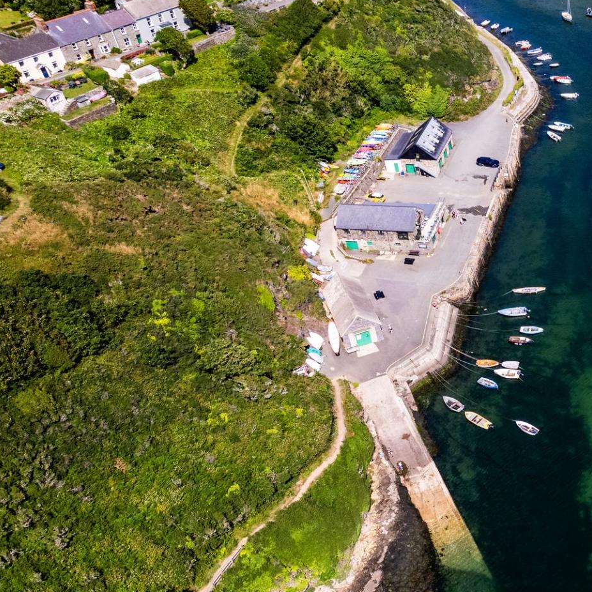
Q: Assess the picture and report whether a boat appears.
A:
Yes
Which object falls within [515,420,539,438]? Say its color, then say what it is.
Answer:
white boat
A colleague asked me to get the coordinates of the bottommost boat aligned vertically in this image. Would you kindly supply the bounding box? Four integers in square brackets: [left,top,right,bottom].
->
[326,318,342,358]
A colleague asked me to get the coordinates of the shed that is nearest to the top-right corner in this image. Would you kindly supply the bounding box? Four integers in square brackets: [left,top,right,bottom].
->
[376,112,453,179]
